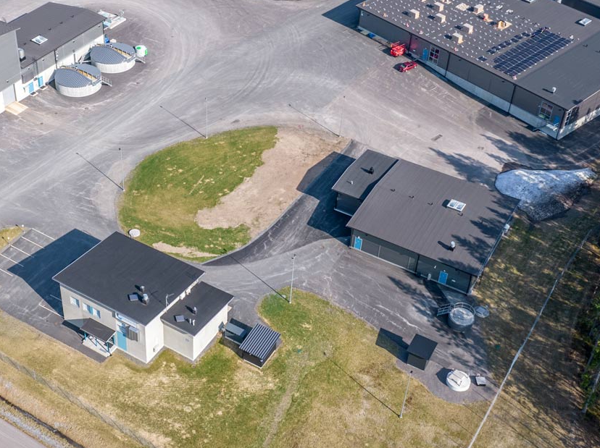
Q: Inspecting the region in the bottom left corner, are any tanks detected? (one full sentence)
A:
No, I can find no tank in the bottom left corner.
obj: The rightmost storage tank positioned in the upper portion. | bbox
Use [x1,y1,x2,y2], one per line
[89,43,145,75]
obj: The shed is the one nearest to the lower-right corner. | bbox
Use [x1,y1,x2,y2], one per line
[406,335,437,372]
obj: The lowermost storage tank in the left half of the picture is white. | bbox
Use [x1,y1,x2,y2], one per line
[52,64,109,99]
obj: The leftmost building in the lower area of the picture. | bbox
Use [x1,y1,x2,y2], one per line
[51,232,232,364]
